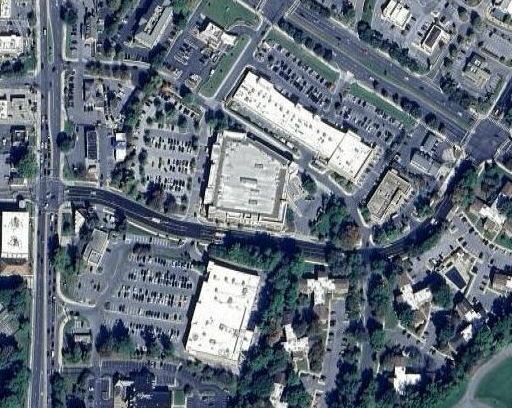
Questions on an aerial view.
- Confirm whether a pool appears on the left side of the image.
No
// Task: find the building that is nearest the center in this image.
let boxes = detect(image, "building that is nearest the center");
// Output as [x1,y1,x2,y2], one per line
[205,131,293,228]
